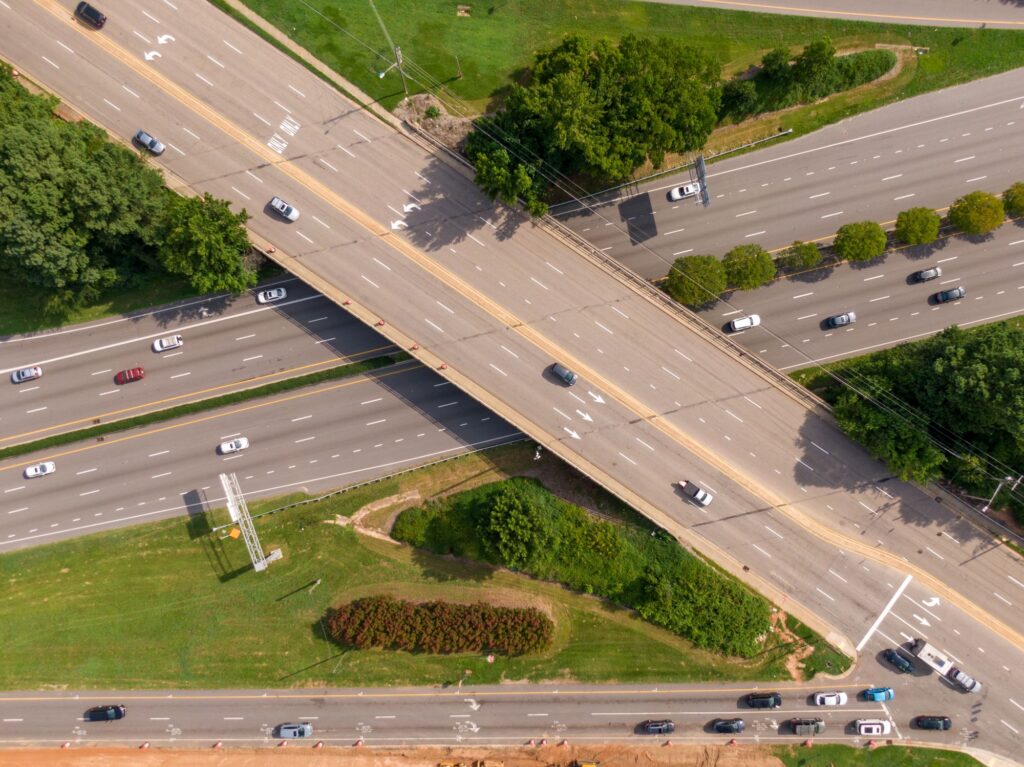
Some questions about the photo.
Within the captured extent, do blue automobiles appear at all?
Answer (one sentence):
Yes, you can see a blue automobile in this photo.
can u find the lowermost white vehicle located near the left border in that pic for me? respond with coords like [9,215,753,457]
[25,461,56,478]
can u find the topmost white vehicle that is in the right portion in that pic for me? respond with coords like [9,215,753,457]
[669,182,699,200]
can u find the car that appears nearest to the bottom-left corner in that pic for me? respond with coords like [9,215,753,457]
[89,705,123,721]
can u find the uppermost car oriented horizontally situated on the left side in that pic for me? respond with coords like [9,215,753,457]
[258,287,287,304]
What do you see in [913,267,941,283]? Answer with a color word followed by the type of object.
gray car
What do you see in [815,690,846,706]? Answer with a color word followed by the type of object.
white car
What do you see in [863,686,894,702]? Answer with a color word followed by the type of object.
blue car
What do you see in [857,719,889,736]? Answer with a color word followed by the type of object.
white car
